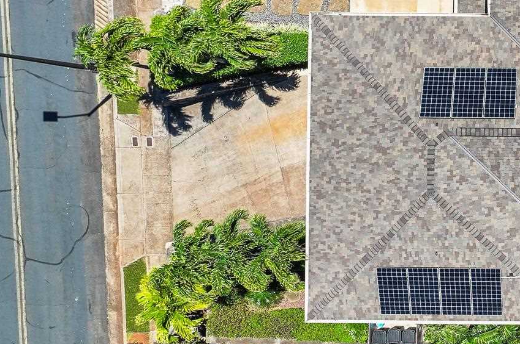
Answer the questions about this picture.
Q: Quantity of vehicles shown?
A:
zero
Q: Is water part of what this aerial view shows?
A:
No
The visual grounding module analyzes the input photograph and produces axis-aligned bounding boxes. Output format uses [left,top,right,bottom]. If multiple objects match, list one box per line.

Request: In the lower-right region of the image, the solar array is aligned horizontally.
[377,268,503,315]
